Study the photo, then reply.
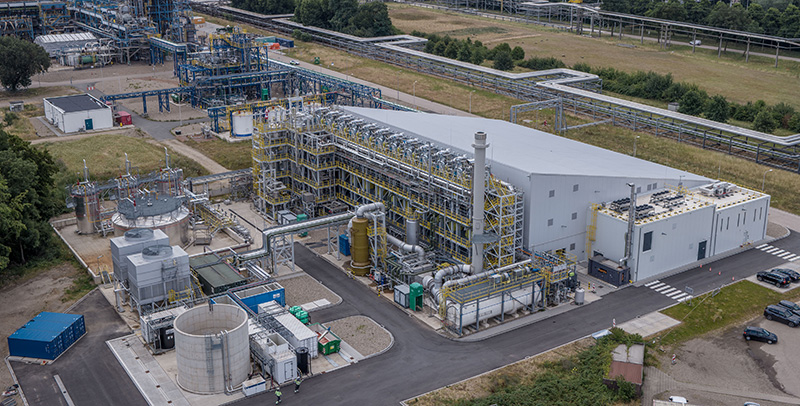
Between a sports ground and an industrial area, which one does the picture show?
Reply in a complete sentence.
This image shows an industrial area.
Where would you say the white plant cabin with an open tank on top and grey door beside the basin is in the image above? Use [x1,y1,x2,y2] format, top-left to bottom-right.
[252,338,295,383]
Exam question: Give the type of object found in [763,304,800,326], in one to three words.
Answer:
car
